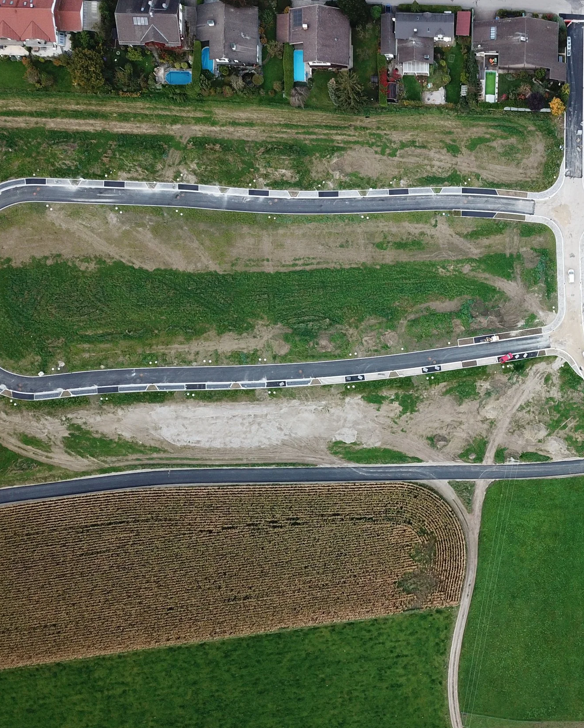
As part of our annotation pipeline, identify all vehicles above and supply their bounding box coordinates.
[385,2,392,13]
[481,335,500,343]
[499,352,512,364]
[568,268,574,283]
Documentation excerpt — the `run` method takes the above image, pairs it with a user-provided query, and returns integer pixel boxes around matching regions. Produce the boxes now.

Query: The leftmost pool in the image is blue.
[165,70,193,85]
